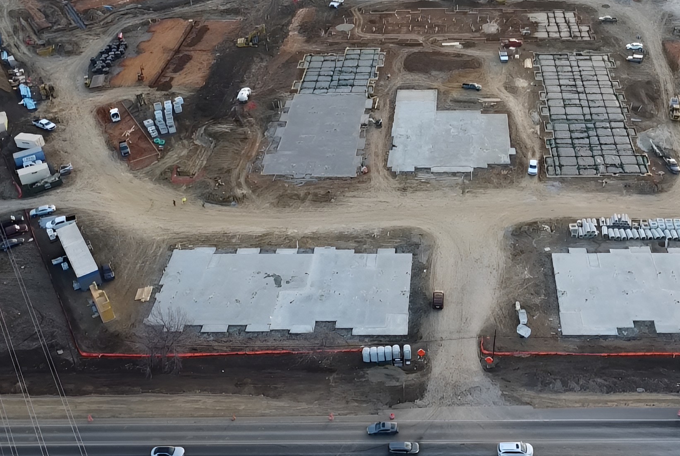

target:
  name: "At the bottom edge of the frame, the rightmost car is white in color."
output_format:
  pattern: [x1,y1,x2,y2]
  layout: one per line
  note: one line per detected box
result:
[497,439,533,456]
